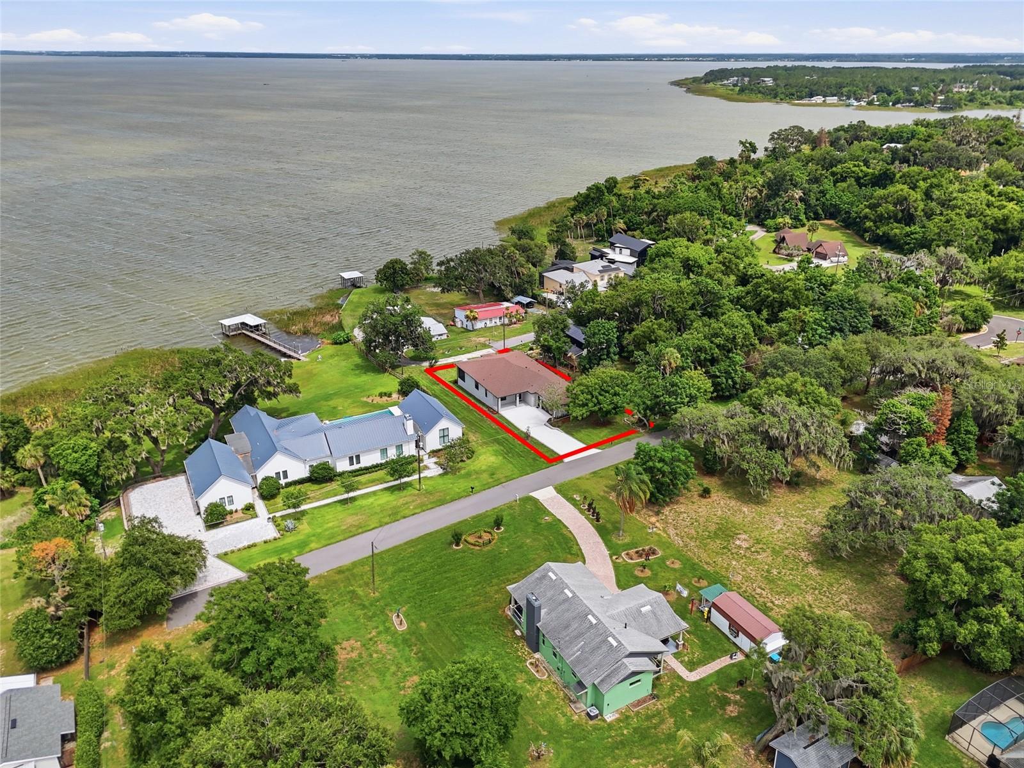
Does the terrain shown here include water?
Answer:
Yes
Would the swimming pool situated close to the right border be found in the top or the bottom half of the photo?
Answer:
bottom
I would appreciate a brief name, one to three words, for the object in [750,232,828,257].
house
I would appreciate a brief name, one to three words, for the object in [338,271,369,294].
building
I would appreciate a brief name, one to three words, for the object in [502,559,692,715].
building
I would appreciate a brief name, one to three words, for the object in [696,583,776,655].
shed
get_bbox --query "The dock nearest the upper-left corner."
[216,312,309,362]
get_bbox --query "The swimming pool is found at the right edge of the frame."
[976,707,1024,756]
